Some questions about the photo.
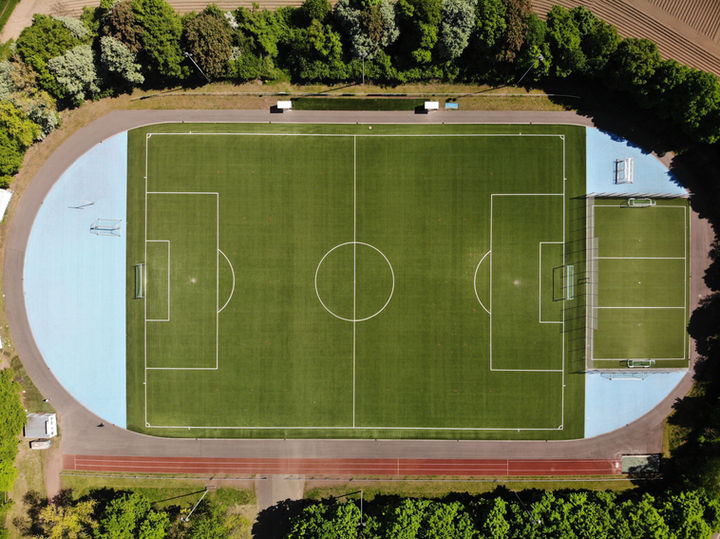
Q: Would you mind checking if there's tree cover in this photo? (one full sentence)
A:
Yes, some tree cover is visible.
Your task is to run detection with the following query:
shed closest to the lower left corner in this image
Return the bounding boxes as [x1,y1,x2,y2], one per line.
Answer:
[25,413,57,439]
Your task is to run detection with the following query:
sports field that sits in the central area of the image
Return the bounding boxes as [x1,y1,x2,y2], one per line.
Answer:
[127,123,586,441]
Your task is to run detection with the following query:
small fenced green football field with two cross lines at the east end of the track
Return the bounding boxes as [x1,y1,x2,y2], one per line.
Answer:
[586,193,691,373]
